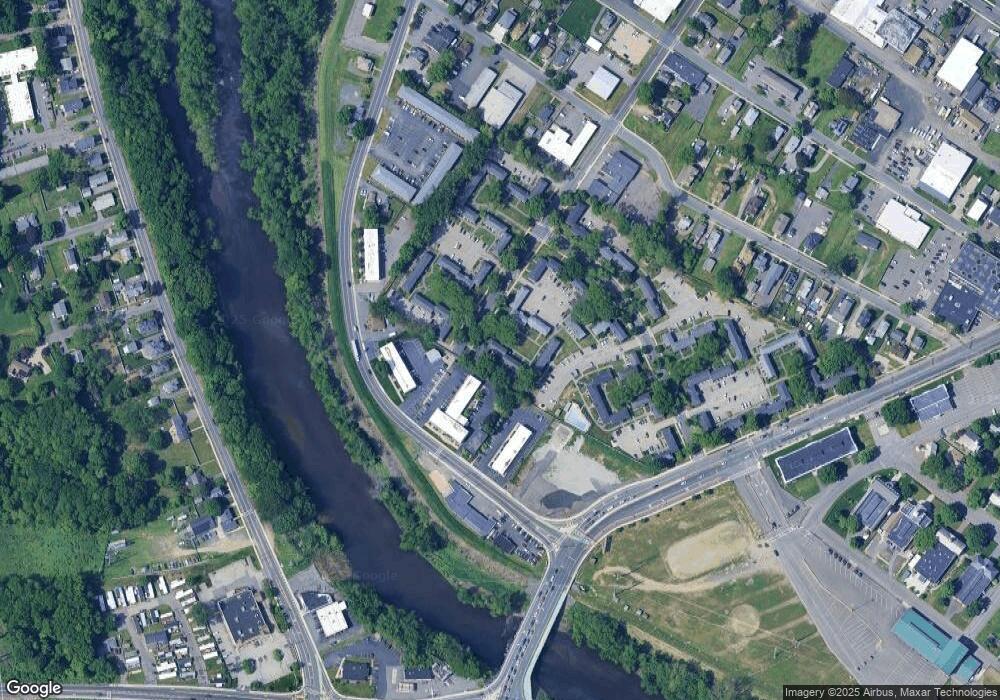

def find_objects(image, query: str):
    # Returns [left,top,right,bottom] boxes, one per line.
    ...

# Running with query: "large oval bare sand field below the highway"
[664,517,756,582]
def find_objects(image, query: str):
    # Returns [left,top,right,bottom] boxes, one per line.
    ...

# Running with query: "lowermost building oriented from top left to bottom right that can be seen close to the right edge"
[894,607,971,680]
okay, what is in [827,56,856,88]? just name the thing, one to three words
barn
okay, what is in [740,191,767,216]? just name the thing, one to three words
house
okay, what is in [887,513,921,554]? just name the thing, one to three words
building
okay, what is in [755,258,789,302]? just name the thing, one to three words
shed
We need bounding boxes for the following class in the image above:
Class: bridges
[497,580,568,691]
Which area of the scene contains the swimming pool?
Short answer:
center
